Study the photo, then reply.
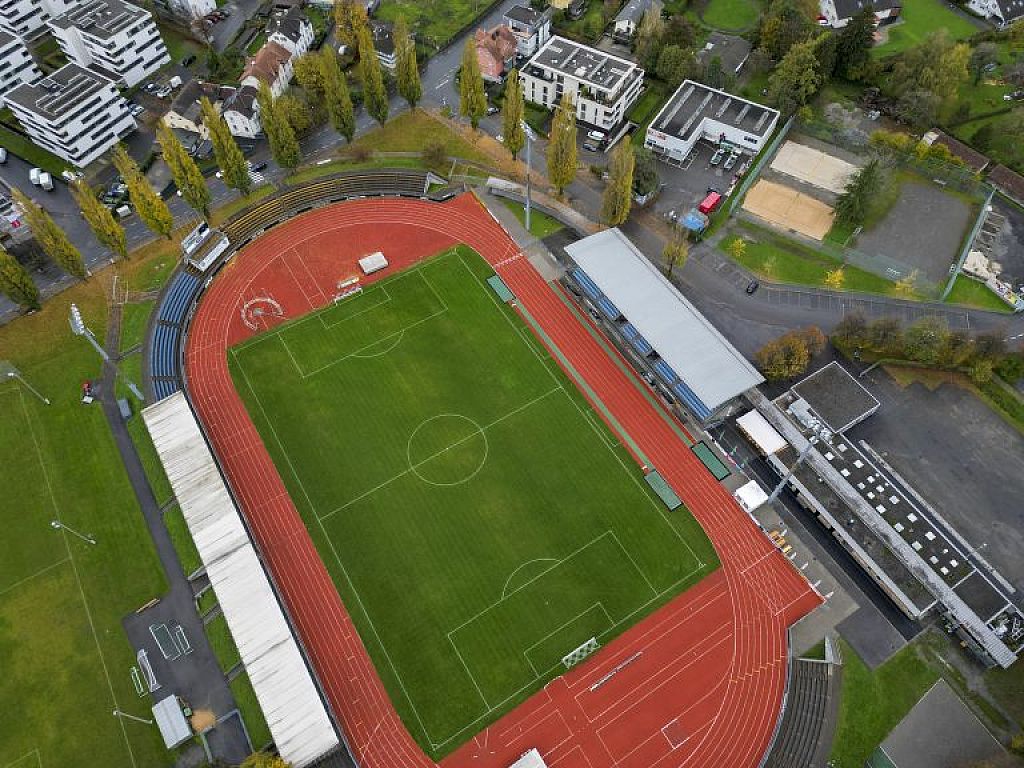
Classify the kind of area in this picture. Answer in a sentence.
The picture captures a sports ground.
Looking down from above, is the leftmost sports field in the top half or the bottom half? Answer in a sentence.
It is in the bottom half that the leftmost sports field appears.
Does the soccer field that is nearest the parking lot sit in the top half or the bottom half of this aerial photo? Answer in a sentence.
Seen from above, the soccer field that is nearest the parking lot lies in the bottom half of the view.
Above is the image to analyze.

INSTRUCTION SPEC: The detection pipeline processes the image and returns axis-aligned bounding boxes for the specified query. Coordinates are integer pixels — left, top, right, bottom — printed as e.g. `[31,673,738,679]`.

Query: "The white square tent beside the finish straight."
[732,482,770,516]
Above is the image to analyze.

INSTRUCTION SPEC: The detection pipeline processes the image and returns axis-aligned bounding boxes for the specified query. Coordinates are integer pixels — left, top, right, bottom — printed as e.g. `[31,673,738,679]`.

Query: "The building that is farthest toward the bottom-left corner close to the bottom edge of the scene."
[152,691,197,749]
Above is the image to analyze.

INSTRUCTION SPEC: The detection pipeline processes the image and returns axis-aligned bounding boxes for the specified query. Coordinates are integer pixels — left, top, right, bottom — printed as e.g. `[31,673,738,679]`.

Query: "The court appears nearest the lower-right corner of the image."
[867,678,1021,768]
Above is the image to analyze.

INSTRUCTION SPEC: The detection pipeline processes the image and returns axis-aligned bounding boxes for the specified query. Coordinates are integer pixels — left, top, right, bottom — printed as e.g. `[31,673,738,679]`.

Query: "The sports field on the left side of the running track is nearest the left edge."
[0,350,180,768]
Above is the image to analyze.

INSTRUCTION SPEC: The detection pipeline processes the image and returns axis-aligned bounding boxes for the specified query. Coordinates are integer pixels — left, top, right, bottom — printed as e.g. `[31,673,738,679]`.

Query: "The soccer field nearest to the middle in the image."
[228,243,722,766]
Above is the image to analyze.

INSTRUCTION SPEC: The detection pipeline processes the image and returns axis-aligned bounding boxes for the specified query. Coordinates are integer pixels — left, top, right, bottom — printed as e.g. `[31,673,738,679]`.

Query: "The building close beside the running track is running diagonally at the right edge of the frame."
[741,360,1024,669]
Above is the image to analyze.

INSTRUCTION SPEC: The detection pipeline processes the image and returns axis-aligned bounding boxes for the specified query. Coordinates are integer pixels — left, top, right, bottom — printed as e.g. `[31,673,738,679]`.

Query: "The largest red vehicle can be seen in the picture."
[700,195,721,214]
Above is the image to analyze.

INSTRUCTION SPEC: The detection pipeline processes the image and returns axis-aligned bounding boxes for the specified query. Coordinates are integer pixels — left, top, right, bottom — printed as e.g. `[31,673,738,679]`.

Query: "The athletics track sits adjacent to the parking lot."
[185,192,822,768]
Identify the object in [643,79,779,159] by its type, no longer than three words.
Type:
building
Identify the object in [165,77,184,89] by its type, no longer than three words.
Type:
vehicle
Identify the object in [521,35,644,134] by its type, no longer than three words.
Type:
building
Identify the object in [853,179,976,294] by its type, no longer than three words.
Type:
sports court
